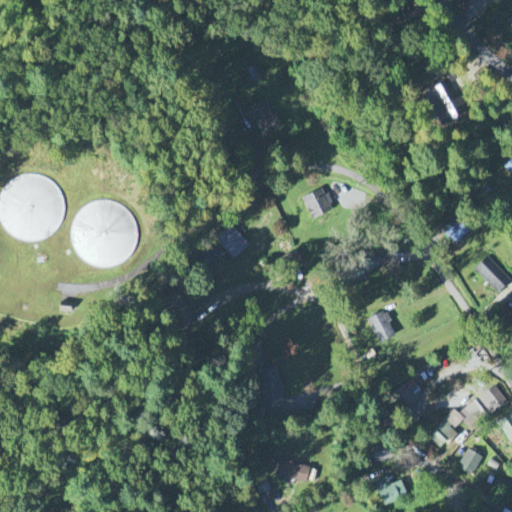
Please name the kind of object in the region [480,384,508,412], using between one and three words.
house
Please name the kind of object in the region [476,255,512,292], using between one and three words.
house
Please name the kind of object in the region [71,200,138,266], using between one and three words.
water tank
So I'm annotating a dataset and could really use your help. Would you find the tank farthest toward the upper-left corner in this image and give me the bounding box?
[0,174,66,241]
